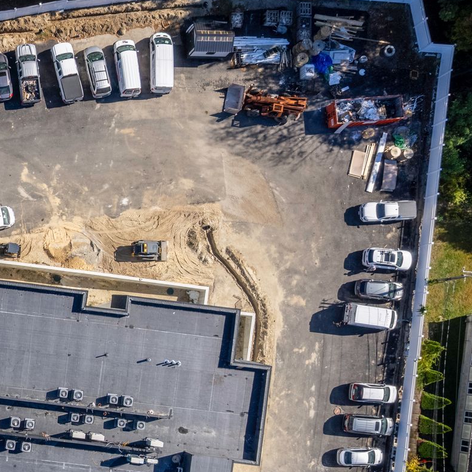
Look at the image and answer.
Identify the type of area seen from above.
parking lot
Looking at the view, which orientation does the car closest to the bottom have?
from left to right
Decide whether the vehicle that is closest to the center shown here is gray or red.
gray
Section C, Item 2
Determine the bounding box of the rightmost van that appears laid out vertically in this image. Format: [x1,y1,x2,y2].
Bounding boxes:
[147,34,175,97]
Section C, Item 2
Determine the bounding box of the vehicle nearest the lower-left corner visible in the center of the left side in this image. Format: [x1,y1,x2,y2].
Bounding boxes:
[0,242,20,259]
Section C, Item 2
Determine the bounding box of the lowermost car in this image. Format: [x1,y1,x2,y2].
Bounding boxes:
[333,446,382,471]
